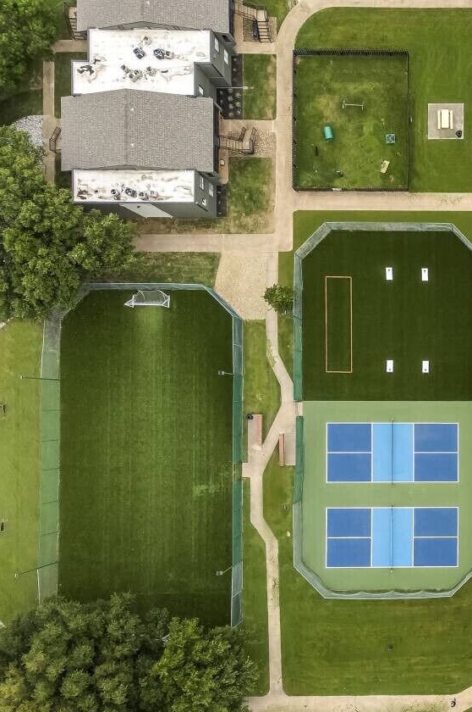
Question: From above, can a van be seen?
No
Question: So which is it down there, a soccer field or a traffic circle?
soccer field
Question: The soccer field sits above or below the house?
below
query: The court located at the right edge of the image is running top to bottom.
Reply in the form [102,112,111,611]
[304,230,472,590]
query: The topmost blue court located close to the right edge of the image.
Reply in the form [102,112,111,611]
[327,423,459,482]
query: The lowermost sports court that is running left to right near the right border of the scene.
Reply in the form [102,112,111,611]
[327,508,459,568]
